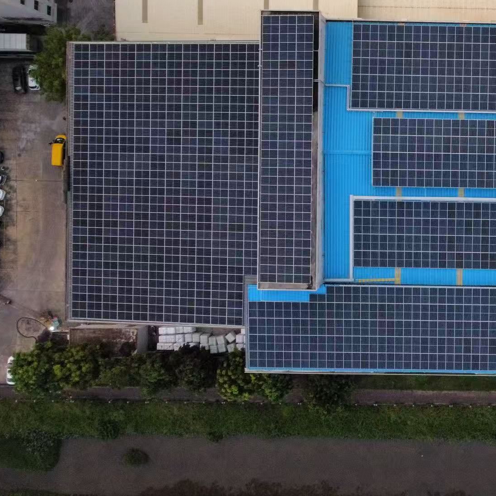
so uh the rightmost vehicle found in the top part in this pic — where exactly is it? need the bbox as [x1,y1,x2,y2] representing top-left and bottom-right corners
[47,136,66,169]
